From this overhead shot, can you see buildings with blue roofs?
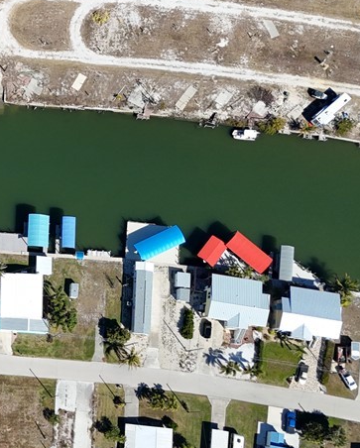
Yes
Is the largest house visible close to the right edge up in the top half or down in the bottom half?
bottom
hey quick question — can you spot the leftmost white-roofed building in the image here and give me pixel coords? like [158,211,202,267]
[0,257,52,333]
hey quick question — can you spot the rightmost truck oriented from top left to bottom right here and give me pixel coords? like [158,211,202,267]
[332,366,357,392]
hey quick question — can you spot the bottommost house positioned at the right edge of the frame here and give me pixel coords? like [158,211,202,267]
[274,286,346,340]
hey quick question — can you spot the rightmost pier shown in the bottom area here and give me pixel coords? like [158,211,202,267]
[291,259,326,290]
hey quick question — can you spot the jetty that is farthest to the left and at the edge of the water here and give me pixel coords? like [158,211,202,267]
[0,231,28,252]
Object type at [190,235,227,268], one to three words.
building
